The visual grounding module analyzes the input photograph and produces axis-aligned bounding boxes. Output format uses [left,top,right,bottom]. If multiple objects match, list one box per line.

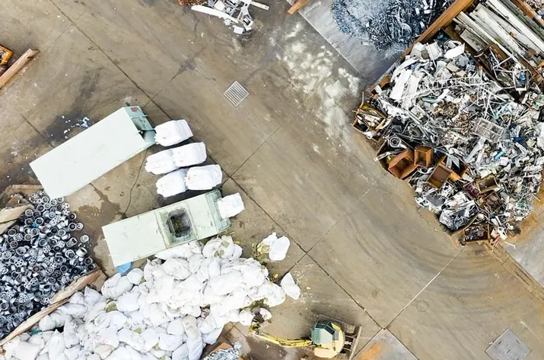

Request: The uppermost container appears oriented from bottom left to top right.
[27,106,161,199]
